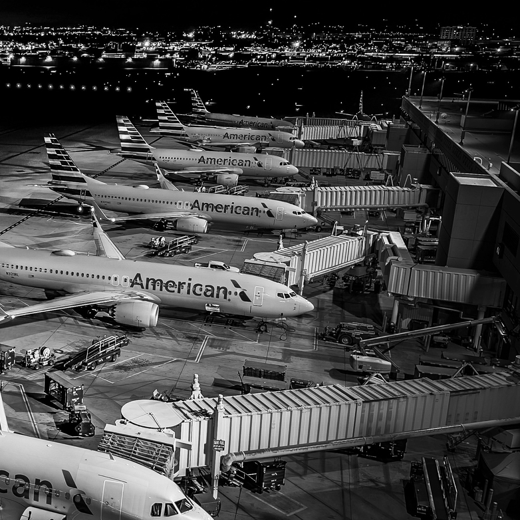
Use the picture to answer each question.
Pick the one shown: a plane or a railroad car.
plane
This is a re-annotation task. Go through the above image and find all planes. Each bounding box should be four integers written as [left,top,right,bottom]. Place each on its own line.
[22,132,314,237]
[0,368,213,520]
[151,102,303,153]
[176,89,290,130]
[0,208,312,333]
[109,117,297,187]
